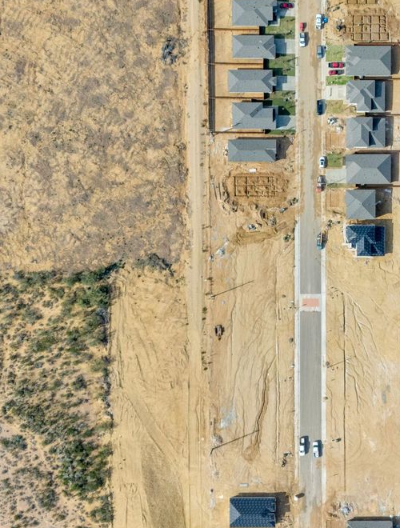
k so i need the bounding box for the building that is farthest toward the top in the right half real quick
[232,0,277,26]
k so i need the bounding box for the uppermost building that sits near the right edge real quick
[346,46,392,76]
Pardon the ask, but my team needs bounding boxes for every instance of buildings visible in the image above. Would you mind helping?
[232,0,277,26]
[346,80,386,113]
[232,102,278,129]
[229,138,278,162]
[346,117,386,147]
[232,34,276,59]
[346,154,392,184]
[228,69,277,93]
[230,494,277,528]
[341,224,386,258]
[346,519,393,528]
[346,46,392,76]
[345,189,375,218]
